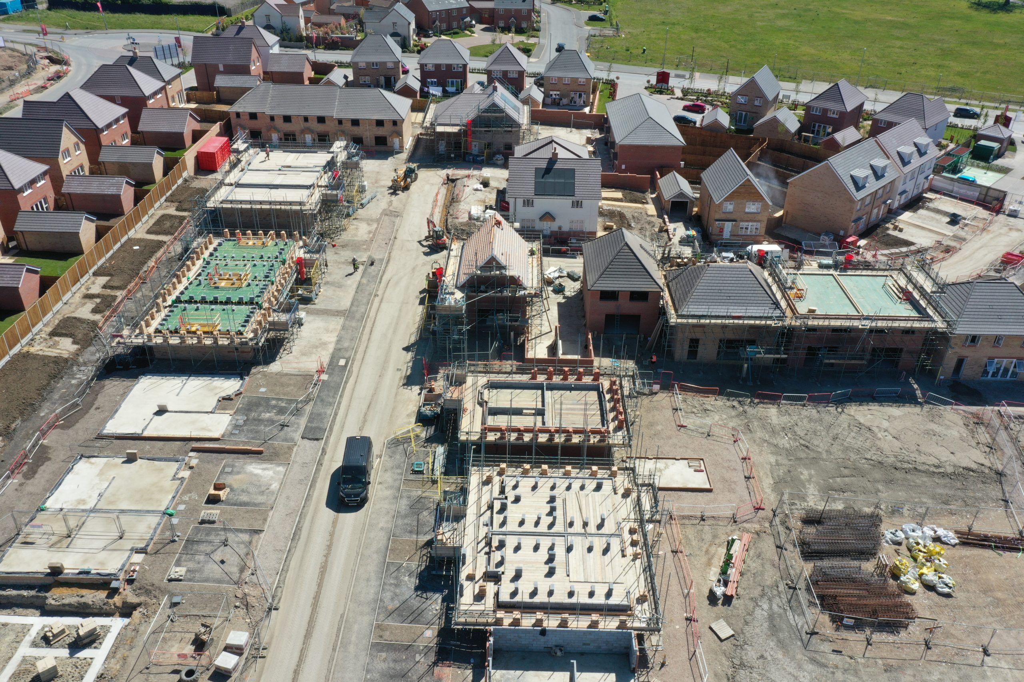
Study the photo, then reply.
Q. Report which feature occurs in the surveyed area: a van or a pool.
van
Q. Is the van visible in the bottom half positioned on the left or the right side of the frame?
left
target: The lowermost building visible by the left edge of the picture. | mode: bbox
[0,260,41,307]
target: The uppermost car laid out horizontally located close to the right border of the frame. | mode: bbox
[953,105,981,118]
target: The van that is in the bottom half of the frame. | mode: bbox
[335,436,378,502]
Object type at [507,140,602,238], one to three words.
house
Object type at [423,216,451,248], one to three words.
work vehicle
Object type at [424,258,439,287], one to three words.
vehicle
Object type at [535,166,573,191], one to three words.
solar panel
